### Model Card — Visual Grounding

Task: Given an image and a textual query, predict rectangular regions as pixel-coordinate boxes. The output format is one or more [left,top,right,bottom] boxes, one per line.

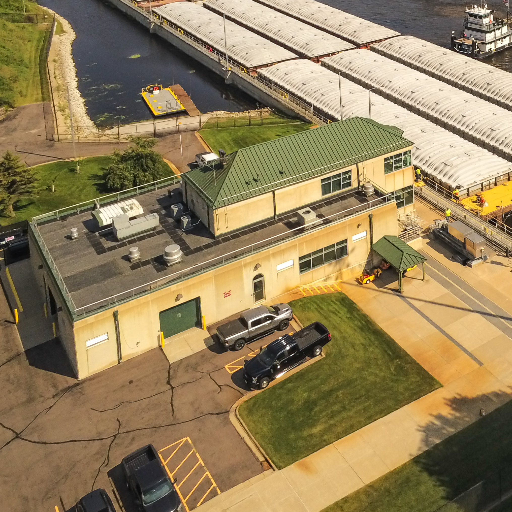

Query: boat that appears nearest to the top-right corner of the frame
[445,0,512,57]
